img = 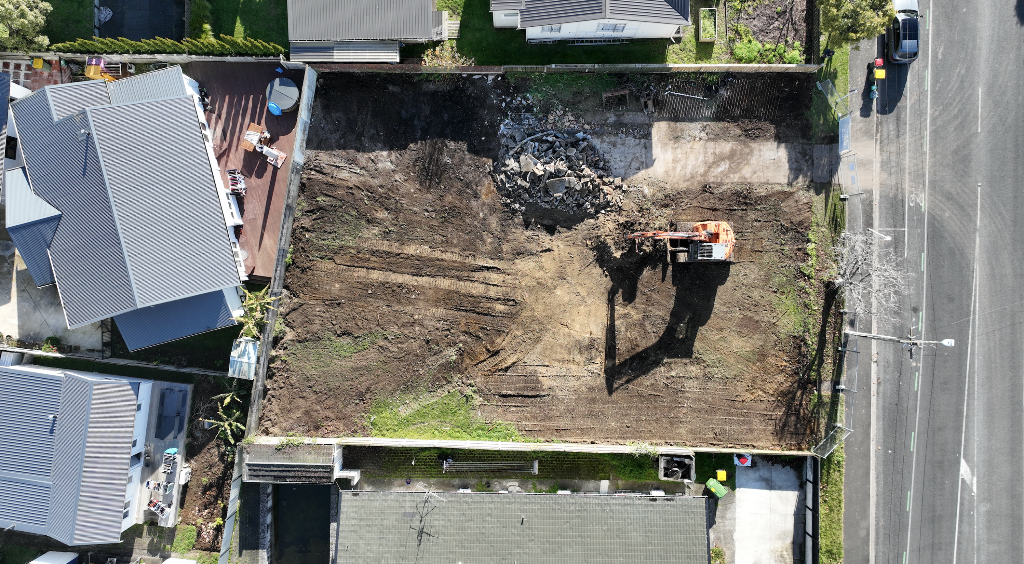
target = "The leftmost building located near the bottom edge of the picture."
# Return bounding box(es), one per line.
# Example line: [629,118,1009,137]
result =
[0,359,157,548]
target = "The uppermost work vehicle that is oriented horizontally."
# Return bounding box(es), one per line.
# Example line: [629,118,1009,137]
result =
[623,221,736,263]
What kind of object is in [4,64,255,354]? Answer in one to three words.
house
